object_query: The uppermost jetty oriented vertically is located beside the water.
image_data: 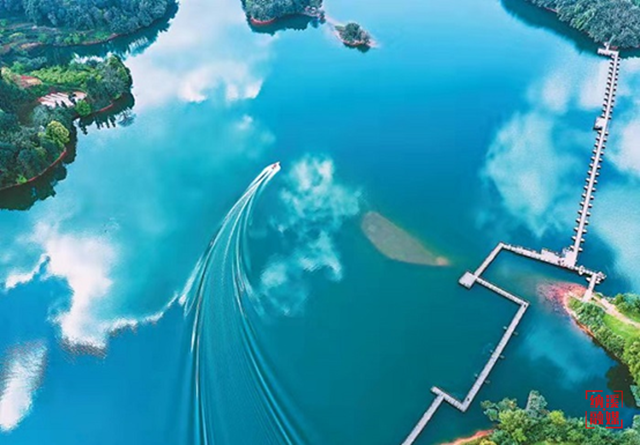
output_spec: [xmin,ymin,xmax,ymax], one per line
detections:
[568,44,621,263]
